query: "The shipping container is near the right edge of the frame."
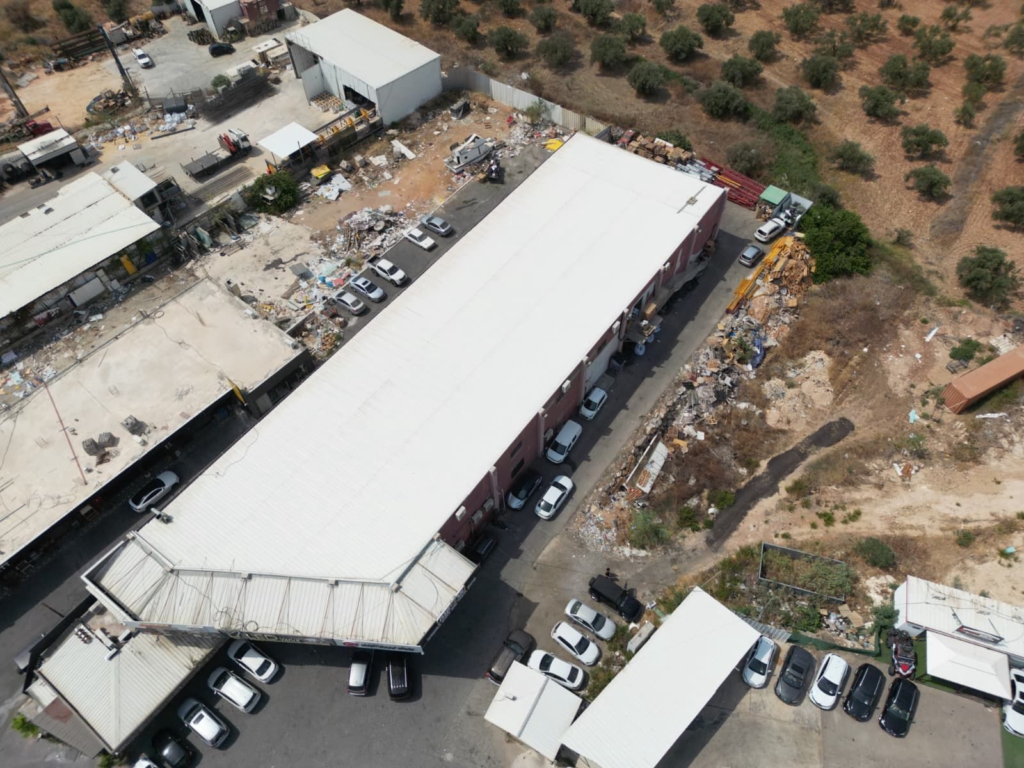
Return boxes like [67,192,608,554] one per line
[934,339,1024,412]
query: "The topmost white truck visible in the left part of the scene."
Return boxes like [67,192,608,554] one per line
[126,45,152,68]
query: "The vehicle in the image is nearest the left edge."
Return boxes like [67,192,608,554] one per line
[0,99,49,154]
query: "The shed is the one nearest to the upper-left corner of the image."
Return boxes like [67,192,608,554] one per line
[17,129,92,188]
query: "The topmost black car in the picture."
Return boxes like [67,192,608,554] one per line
[206,41,238,58]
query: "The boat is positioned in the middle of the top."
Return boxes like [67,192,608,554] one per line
[441,127,495,173]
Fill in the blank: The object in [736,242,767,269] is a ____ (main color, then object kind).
gray car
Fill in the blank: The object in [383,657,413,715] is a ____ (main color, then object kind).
black car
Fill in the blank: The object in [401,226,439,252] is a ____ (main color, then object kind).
white car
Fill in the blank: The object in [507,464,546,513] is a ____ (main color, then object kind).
black car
